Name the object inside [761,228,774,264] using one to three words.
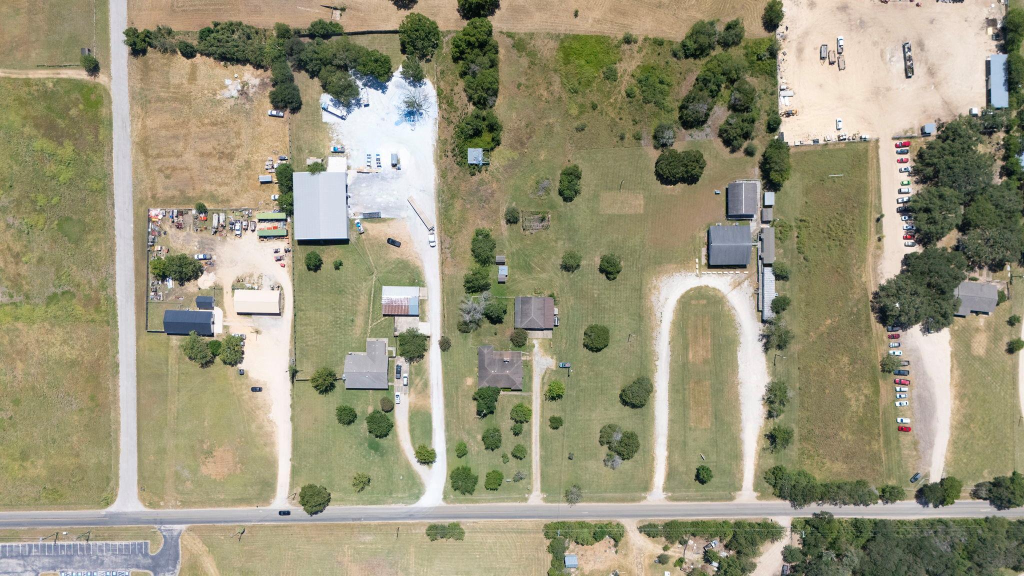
building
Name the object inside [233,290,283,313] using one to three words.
building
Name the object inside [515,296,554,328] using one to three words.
house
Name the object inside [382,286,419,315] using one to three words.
barn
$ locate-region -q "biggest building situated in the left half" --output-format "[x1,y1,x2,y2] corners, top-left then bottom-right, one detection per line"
[293,171,352,240]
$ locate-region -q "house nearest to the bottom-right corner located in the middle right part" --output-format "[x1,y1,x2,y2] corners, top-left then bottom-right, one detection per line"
[953,284,999,314]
